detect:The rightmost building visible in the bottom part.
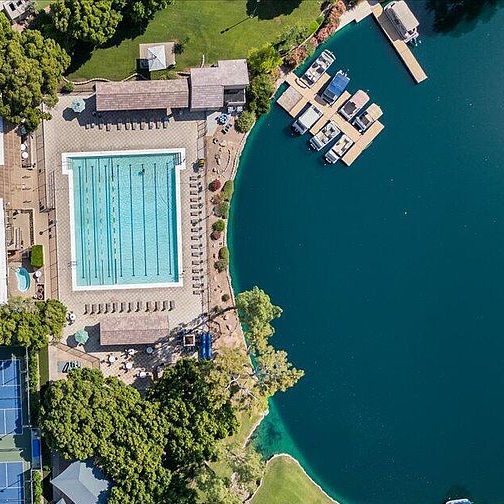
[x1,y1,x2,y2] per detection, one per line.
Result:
[99,316,170,345]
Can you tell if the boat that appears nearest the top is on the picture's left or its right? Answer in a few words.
right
